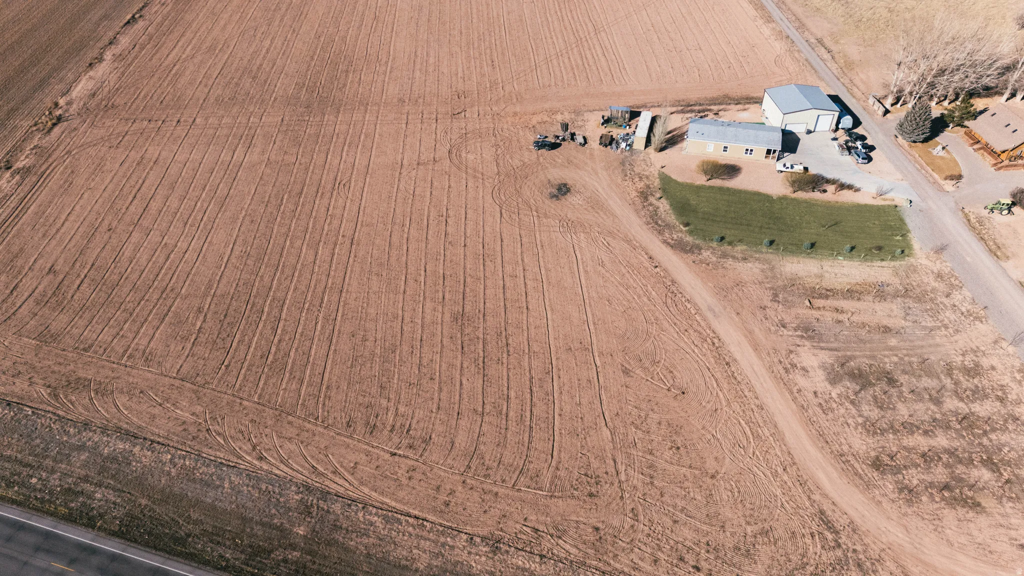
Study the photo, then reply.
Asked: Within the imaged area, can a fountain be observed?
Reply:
No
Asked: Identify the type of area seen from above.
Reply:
farmland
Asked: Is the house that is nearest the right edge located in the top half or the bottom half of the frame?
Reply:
top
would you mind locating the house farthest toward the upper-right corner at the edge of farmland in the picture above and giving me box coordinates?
[962,103,1024,174]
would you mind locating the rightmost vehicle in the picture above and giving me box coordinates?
[987,199,1012,216]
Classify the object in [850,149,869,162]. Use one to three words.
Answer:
vehicle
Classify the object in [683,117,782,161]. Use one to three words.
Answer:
house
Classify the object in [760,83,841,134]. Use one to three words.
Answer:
building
